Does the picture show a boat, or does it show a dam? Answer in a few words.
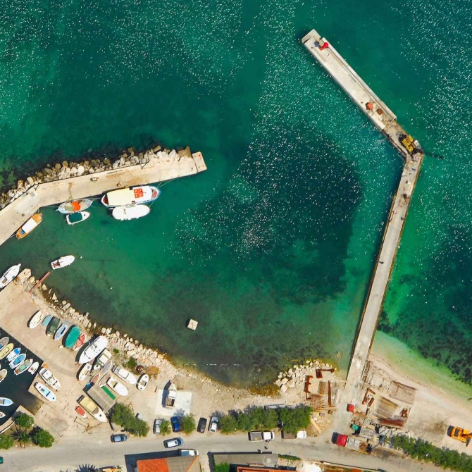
boat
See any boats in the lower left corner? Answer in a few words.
Yes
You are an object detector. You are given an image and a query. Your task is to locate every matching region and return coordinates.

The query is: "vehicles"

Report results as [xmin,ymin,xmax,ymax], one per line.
[283,430,307,439]
[337,424,381,450]
[132,411,152,428]
[109,434,128,442]
[162,438,184,449]
[248,432,273,441]
[152,415,162,437]
[0,457,5,464]
[178,448,199,458]
[209,415,219,434]
[451,426,472,448]
[170,415,180,434]
[196,416,207,435]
